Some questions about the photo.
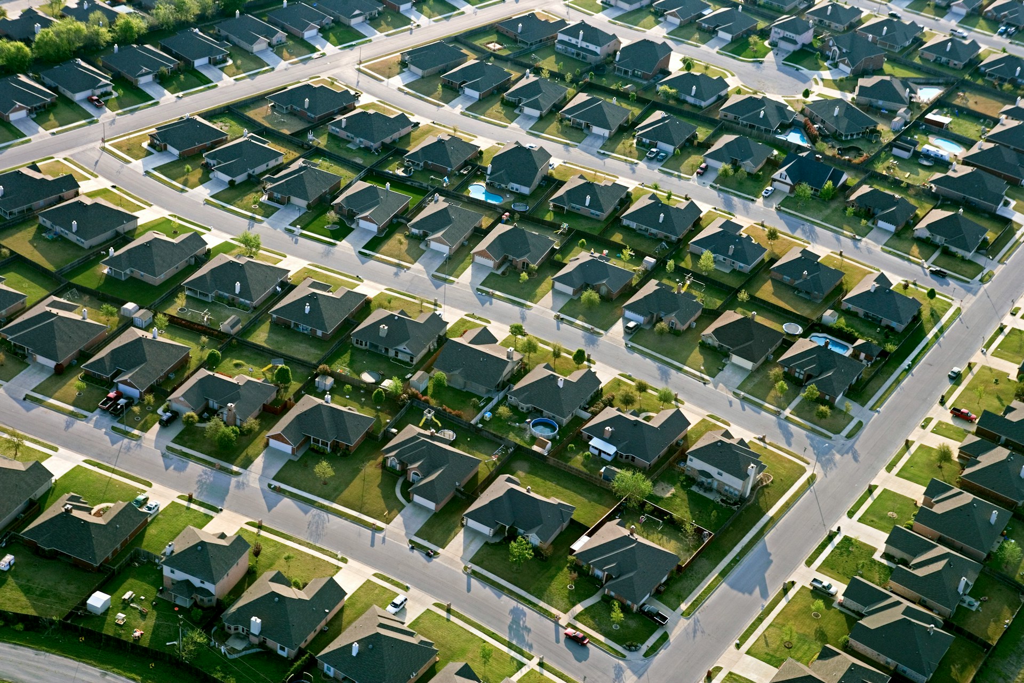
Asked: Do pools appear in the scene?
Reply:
Yes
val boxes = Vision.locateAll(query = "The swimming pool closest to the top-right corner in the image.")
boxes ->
[913,85,946,101]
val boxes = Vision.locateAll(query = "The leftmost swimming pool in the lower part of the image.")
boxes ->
[532,421,558,440]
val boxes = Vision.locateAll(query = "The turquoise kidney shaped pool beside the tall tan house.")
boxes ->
[464,182,507,204]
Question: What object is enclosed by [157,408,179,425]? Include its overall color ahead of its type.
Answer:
black car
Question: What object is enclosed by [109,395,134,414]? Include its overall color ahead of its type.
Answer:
black vehicle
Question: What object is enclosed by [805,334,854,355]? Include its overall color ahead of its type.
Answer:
blue swimming pool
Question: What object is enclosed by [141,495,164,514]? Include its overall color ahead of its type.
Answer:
white car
